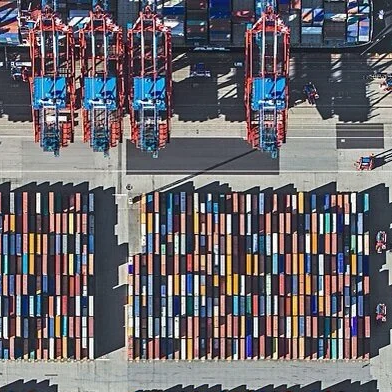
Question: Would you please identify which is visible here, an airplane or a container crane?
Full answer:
Looking from above, you can make out a container crane.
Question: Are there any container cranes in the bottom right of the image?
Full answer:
No, no container crane can be made out in the bottom right of the image.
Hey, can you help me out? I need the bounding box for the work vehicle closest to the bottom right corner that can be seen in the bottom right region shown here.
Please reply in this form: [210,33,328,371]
[375,303,389,324]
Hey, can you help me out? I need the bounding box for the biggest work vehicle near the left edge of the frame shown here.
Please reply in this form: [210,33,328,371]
[13,64,27,89]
